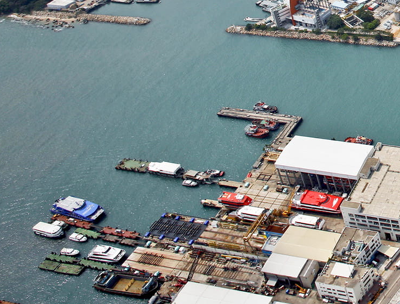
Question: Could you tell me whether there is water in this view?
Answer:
Yes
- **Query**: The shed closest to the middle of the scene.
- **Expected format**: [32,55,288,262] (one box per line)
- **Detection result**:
[147,162,184,181]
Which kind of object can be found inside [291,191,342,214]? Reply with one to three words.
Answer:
vessel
